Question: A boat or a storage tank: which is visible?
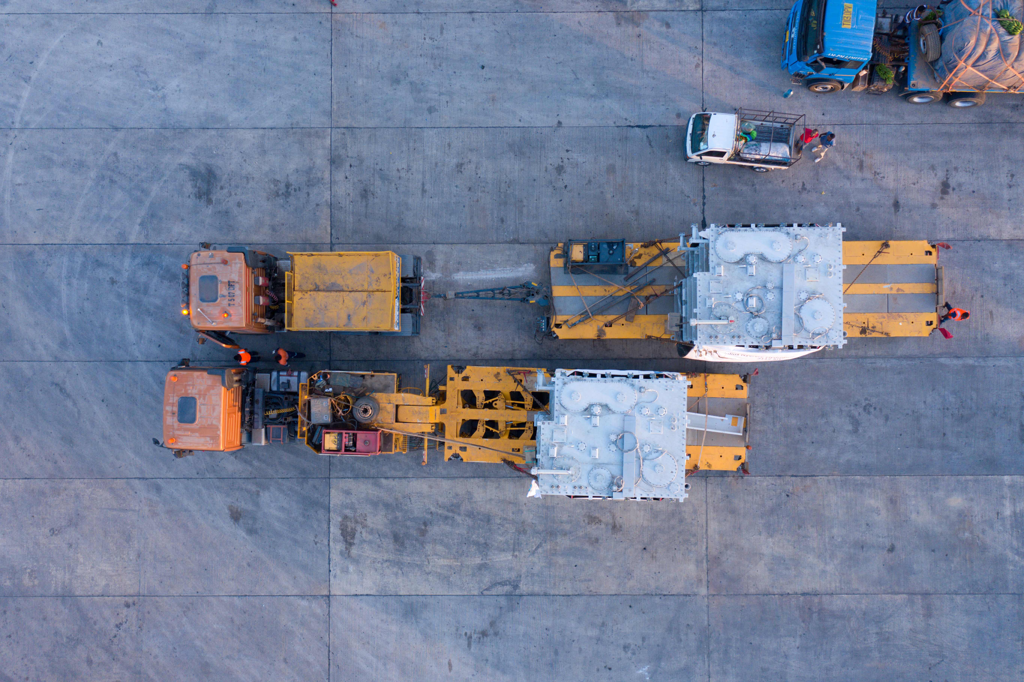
storage tank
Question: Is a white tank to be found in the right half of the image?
No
